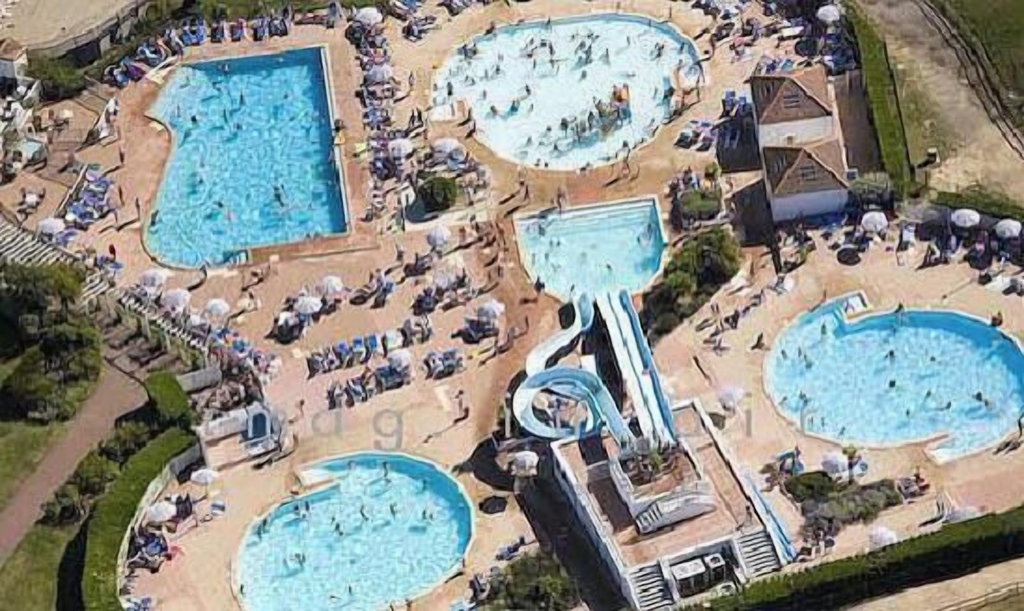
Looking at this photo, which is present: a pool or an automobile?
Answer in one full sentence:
Visible in the photo is a pool.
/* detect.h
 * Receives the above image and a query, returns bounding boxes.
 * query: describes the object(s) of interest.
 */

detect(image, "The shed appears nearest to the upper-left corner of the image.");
[0,37,31,92]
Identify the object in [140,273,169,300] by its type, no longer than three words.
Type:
umbrella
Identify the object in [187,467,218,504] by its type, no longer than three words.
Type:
umbrella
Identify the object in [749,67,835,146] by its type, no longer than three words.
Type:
house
